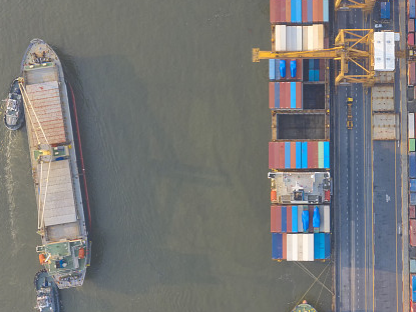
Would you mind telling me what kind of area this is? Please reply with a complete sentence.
This image shows a port.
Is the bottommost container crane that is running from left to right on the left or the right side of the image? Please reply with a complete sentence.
You can find the bottommost container crane that is running from left to right on the right side of the picture.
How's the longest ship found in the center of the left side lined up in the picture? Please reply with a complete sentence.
The longest ship found in the center of the left side runs up and down in the image.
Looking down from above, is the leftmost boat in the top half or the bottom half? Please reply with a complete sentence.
Seen from above, the leftmost boat lies in the top half of the view.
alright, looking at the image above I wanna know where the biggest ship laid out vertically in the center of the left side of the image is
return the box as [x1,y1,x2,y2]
[23,36,94,292]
